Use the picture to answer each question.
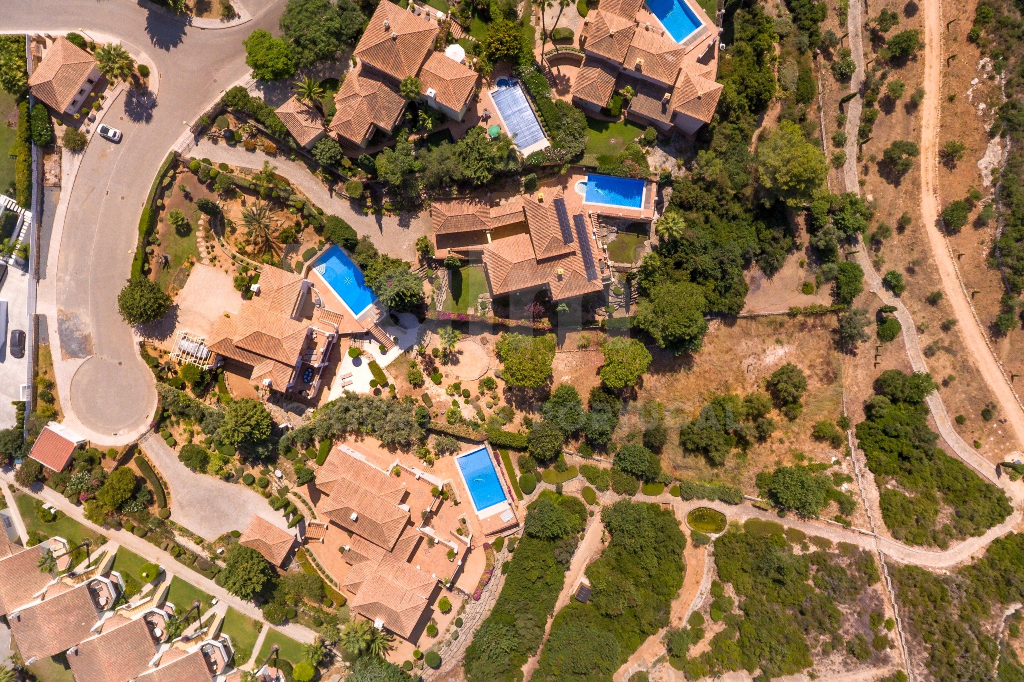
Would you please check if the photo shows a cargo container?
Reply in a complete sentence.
No, no cargo container is visible in the view.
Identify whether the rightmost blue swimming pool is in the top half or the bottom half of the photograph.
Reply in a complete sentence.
The rightmost blue swimming pool sits in the top half of the picture.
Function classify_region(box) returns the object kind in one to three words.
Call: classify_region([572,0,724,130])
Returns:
house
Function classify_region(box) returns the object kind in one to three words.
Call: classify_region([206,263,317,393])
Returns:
house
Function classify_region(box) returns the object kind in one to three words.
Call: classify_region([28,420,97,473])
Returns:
shed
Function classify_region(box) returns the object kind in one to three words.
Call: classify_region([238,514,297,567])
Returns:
building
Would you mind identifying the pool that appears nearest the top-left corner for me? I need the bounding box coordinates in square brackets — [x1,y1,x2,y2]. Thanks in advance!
[308,242,380,320]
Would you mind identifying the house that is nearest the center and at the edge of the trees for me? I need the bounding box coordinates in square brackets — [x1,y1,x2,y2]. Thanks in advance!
[430,185,603,300]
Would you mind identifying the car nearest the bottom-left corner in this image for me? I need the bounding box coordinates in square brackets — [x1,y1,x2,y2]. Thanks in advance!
[11,333,27,360]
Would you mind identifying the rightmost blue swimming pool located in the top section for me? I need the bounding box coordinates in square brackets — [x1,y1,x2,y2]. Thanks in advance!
[643,0,706,44]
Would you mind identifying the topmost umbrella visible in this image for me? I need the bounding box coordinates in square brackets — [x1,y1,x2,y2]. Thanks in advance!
[446,44,466,63]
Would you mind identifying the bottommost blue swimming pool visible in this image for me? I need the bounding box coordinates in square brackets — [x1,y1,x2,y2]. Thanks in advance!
[452,445,510,515]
